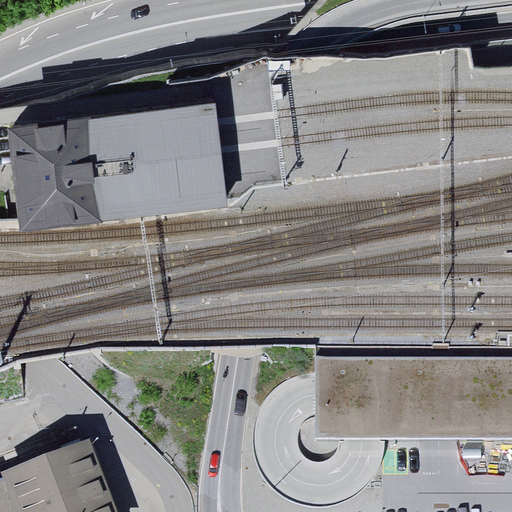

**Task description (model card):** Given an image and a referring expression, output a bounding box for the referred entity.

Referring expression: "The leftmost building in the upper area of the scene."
[7,118,102,231]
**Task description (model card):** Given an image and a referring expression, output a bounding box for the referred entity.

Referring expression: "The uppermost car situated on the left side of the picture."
[130,5,152,20]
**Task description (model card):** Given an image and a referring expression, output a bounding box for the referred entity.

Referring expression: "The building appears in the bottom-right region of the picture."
[316,356,512,442]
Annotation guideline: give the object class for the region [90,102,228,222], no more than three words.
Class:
building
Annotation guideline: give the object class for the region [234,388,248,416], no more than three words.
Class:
vehicle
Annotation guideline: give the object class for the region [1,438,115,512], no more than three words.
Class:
building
